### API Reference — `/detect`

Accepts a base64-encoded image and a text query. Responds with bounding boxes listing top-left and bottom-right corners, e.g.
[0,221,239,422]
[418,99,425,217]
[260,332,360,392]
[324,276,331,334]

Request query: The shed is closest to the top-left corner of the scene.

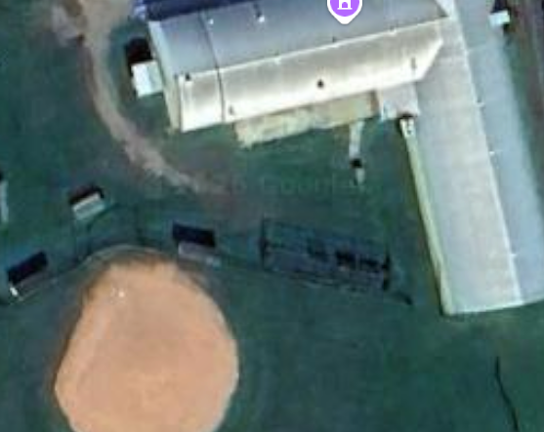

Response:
[125,57,165,97]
